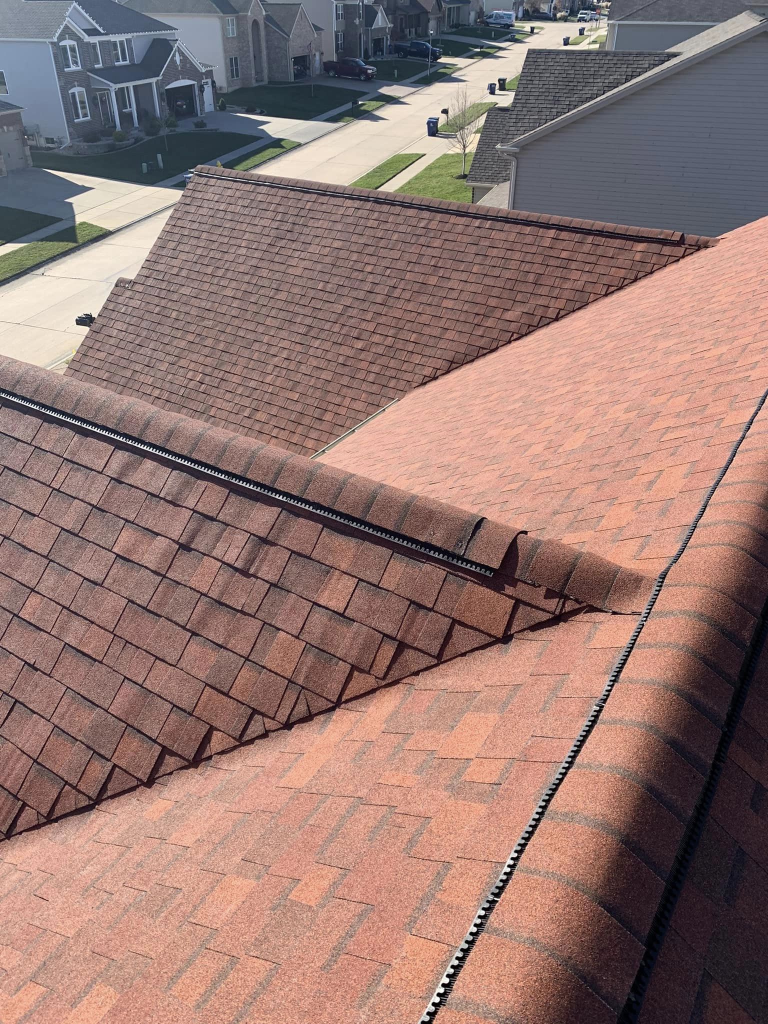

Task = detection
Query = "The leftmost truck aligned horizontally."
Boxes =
[324,55,377,77]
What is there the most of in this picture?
buildings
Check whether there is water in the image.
No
